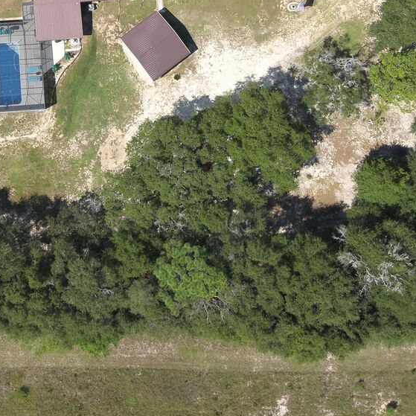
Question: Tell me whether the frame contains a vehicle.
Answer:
No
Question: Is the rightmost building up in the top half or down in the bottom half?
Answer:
top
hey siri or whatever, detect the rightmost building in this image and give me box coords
[120,10,192,84]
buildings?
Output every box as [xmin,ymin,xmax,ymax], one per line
[120,10,192,84]
[33,0,102,41]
